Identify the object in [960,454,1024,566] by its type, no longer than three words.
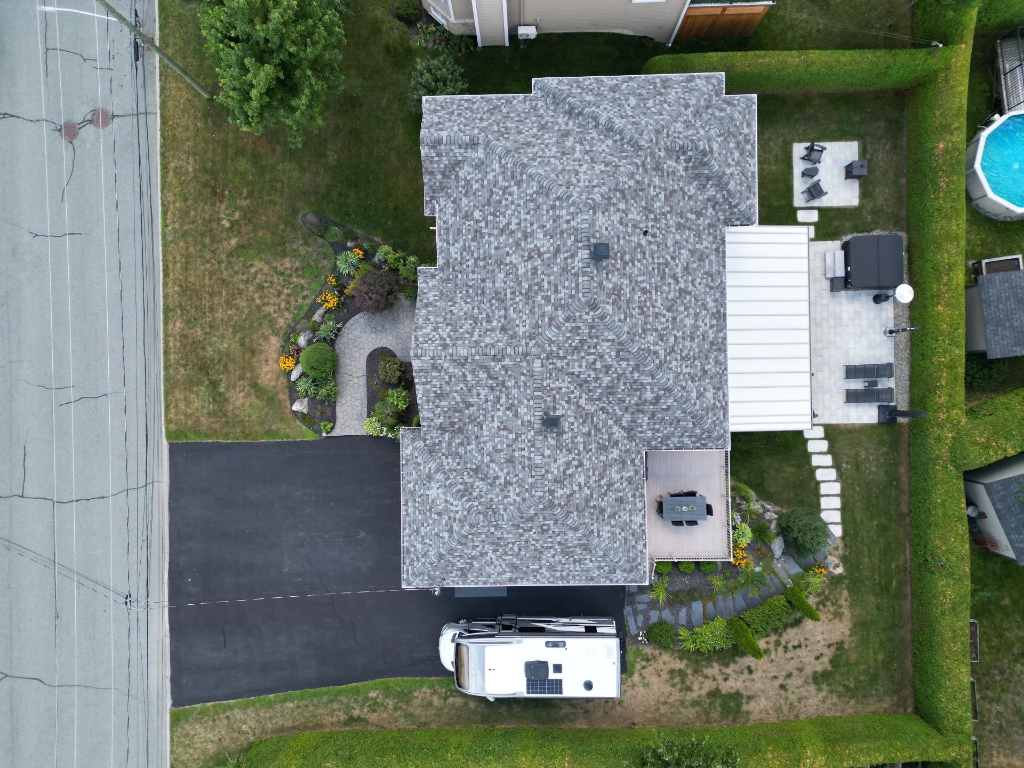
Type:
shed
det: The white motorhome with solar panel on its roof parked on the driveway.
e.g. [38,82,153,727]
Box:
[439,610,621,702]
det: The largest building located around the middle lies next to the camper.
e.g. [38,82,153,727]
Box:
[401,74,758,601]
